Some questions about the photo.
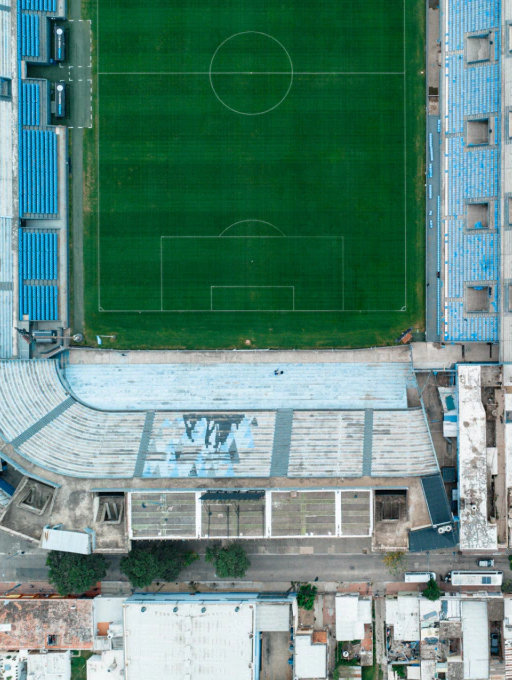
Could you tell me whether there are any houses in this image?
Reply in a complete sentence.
Yes, a house is visible in the scene.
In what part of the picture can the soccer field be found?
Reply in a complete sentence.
The soccer field sits in the top section of the image.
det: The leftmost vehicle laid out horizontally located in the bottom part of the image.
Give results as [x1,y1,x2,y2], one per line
[404,571,436,585]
